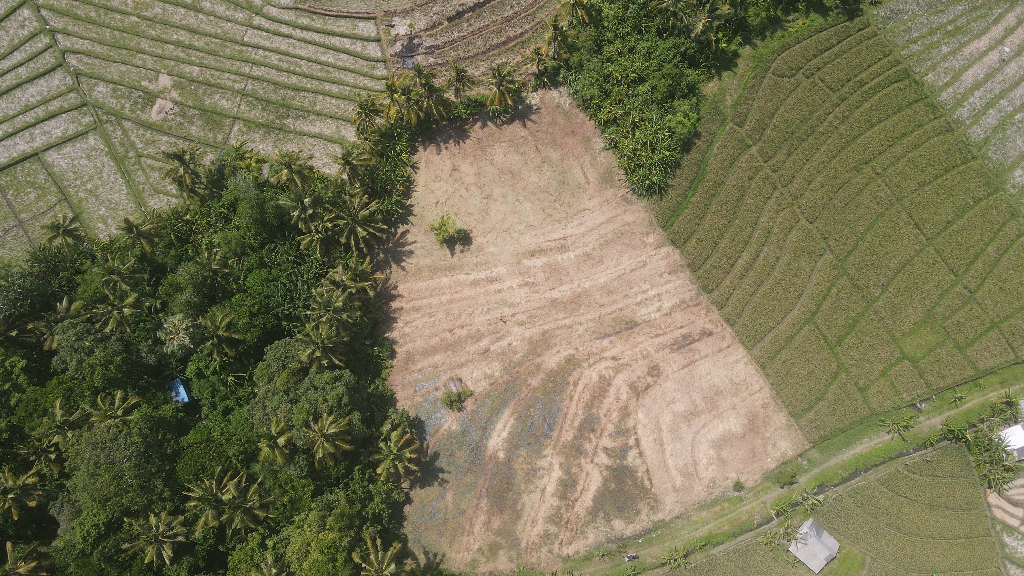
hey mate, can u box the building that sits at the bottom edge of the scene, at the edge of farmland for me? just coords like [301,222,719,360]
[785,516,840,574]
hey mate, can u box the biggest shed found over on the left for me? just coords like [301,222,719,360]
[169,377,197,407]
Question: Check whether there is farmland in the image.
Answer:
Yes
